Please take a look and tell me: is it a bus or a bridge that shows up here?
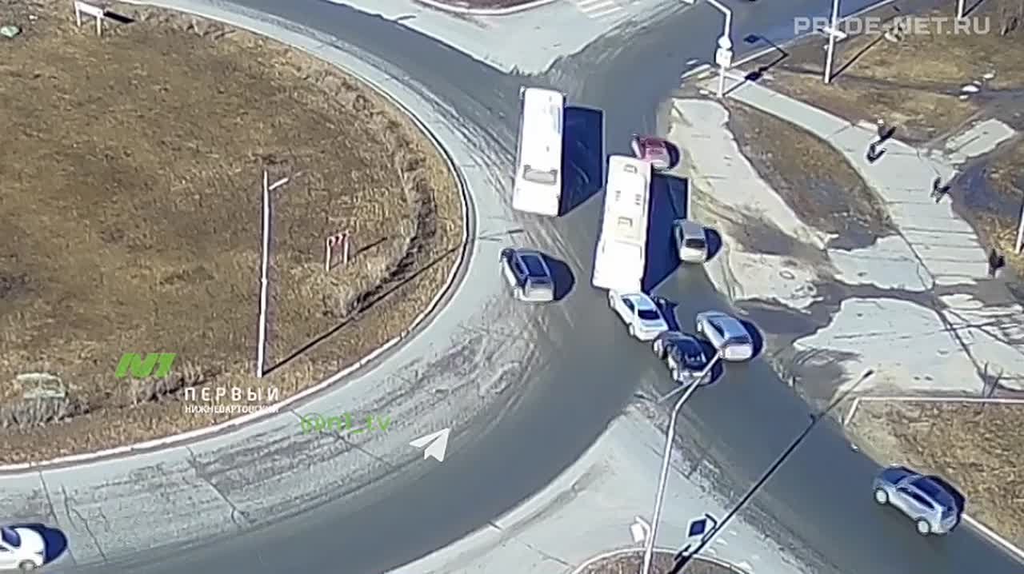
bus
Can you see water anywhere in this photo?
No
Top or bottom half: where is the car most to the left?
bottom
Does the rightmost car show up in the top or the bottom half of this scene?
bottom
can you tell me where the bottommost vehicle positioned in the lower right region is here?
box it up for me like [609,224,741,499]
[873,470,966,535]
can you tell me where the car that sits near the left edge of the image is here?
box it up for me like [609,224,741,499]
[0,525,48,572]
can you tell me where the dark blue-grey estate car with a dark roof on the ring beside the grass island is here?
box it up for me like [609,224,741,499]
[504,251,556,298]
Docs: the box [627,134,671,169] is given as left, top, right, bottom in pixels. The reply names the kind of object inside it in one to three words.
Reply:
car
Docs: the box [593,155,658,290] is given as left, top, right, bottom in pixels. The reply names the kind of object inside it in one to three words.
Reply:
bus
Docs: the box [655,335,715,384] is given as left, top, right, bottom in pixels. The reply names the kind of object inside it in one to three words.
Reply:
car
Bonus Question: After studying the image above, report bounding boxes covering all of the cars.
[610,289,669,336]
[504,251,556,298]
[627,134,671,169]
[873,470,966,535]
[672,222,711,261]
[0,525,48,572]
[655,335,715,384]
[699,313,754,359]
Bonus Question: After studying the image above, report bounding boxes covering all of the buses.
[593,155,658,290]
[514,87,568,214]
